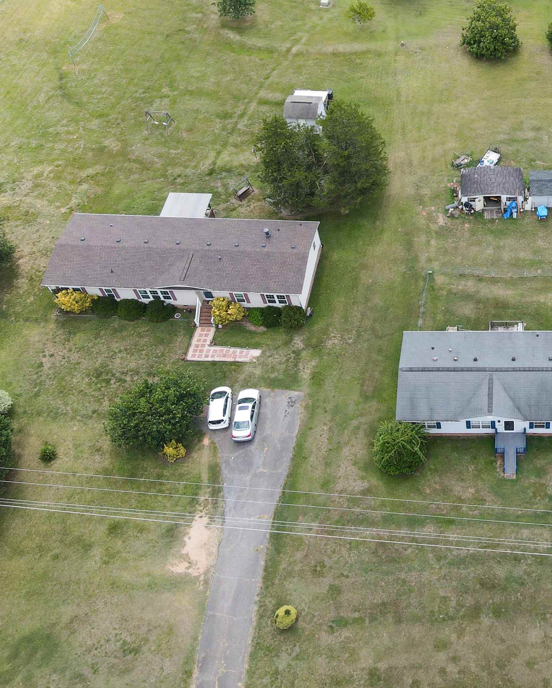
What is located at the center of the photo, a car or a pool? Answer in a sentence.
There is a car at the center of the photo.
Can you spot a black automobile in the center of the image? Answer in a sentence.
No, no black automobile can be made out in the center of the image.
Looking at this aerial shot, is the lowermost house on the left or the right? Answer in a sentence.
It is on the right.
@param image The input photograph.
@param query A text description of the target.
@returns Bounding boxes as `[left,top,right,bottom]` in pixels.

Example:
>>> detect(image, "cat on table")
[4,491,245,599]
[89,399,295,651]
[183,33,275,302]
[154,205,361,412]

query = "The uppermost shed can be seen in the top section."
[282,82,333,132]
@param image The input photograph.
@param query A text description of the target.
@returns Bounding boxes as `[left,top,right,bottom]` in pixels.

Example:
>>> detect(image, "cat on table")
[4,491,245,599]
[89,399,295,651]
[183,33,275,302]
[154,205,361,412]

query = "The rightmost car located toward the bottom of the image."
[231,390,261,443]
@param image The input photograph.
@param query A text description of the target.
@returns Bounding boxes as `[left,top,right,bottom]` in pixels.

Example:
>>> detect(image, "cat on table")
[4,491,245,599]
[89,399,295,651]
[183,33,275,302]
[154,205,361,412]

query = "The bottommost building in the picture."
[395,320,552,481]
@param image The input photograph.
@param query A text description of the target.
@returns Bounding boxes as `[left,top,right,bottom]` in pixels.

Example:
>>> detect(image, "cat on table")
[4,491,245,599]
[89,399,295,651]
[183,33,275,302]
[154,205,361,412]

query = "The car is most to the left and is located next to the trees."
[202,385,233,435]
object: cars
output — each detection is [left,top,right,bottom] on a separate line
[231,390,261,443]
[202,385,233,435]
